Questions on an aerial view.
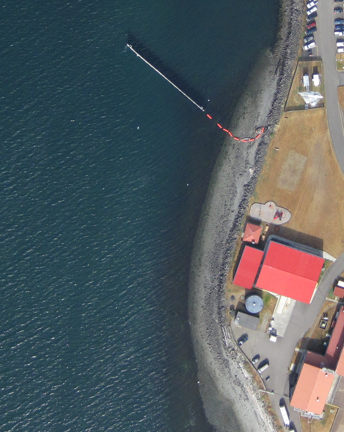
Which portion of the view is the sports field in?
right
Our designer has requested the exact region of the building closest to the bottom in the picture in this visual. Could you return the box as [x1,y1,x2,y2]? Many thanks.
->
[289,364,335,422]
